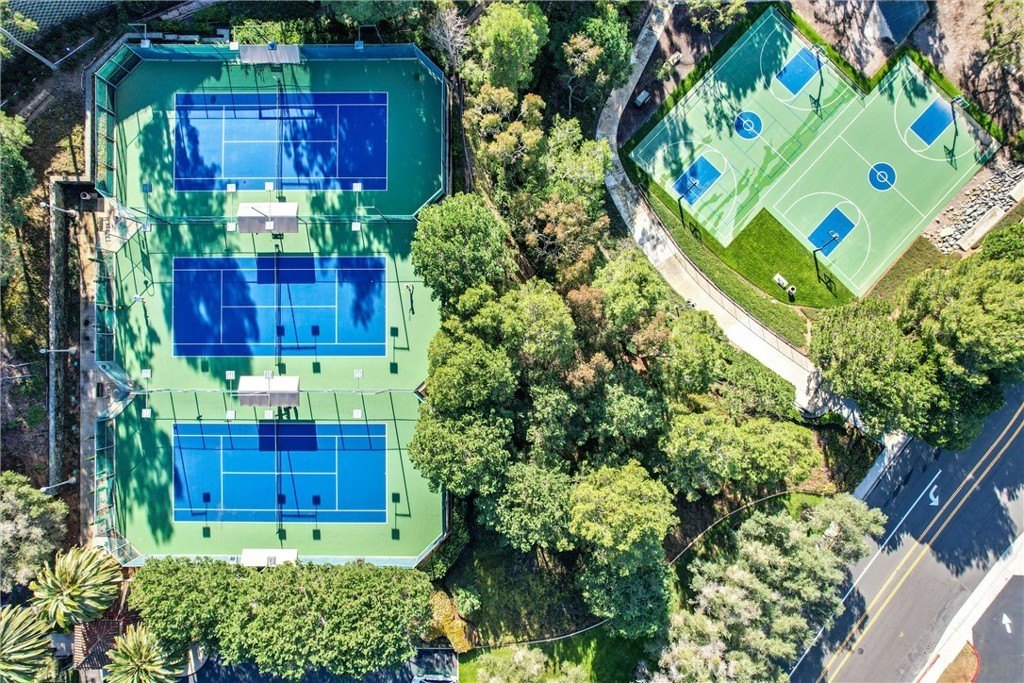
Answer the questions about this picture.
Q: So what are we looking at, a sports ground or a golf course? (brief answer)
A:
sports ground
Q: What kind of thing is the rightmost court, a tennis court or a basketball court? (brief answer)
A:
basketball court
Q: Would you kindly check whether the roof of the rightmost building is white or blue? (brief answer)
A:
blue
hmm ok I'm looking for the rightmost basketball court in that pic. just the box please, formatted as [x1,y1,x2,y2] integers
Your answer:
[766,56,1000,297]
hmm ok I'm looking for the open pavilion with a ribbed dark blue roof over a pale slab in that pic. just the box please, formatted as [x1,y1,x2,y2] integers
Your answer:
[865,0,931,51]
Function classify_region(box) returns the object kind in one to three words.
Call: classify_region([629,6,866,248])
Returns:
basketball court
